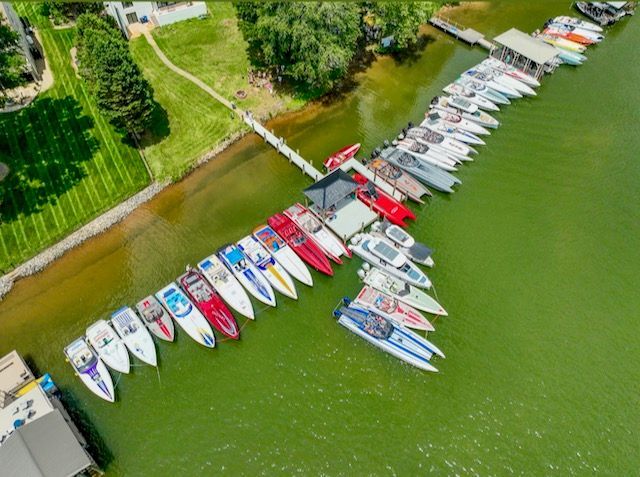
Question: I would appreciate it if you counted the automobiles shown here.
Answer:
0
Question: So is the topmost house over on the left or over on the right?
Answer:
left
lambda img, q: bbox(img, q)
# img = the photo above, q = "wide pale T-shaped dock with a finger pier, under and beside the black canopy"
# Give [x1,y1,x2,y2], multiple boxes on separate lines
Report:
[288,158,405,243]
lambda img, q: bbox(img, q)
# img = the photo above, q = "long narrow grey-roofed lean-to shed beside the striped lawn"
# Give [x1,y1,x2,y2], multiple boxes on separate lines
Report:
[4,0,44,89]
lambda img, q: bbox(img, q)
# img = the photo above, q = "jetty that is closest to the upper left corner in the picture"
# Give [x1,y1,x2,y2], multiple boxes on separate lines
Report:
[244,109,329,183]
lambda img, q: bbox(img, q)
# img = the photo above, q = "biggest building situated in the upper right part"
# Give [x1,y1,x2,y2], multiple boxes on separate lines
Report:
[488,29,560,81]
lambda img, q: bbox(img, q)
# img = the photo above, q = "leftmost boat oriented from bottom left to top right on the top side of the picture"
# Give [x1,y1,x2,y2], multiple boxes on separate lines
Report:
[322,143,360,173]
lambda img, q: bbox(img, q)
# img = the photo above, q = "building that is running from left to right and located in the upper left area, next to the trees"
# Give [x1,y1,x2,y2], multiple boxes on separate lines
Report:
[102,0,188,36]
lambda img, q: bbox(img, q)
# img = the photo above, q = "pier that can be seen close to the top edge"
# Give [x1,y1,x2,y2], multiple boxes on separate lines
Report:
[429,15,494,49]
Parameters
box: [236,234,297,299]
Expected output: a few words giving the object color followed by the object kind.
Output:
white boat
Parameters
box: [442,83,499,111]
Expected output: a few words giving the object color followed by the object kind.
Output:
white boat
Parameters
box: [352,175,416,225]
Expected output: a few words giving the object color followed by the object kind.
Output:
red boat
